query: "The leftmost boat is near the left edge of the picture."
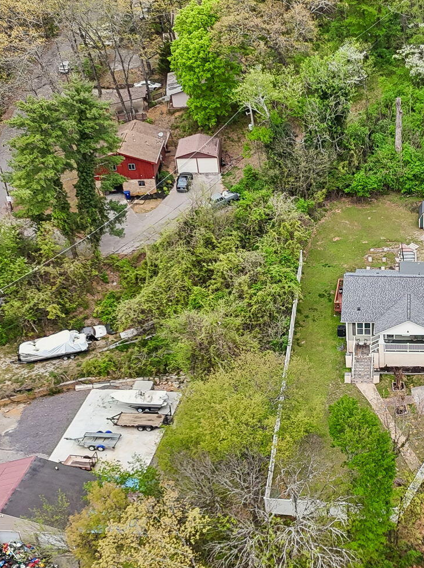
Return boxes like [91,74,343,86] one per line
[16,329,95,362]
